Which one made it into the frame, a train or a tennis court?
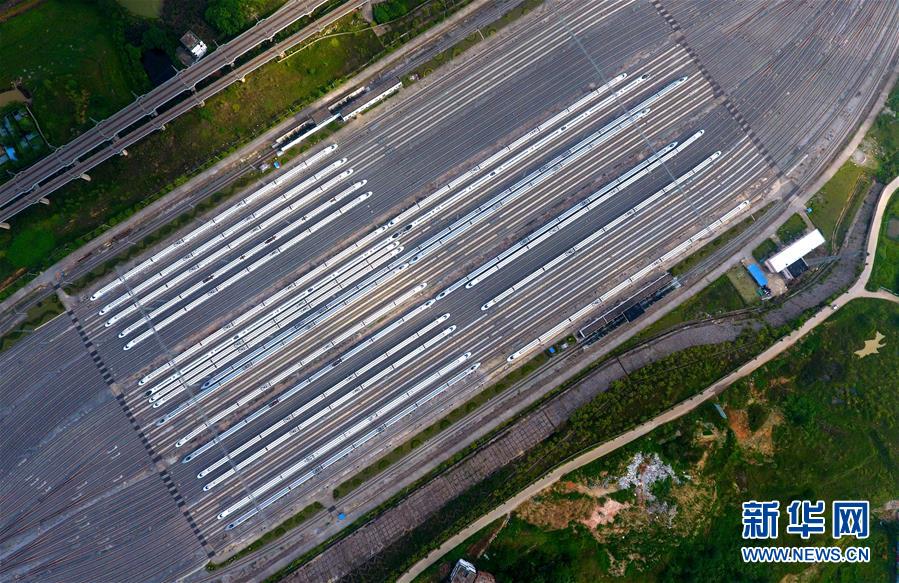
train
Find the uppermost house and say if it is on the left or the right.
left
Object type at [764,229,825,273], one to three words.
building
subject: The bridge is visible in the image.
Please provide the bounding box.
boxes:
[0,0,324,209]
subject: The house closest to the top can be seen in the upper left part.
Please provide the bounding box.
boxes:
[180,31,205,57]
